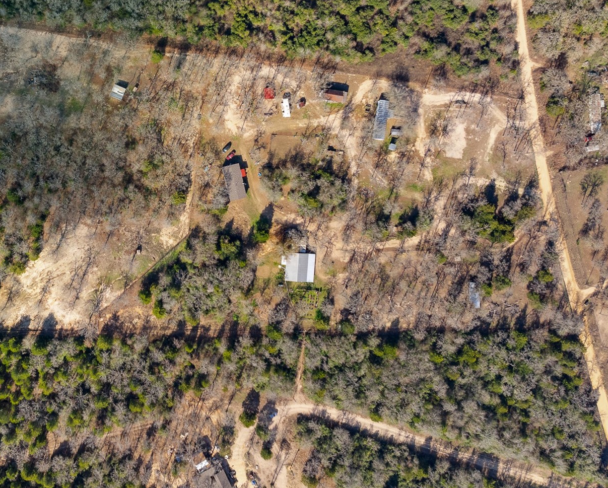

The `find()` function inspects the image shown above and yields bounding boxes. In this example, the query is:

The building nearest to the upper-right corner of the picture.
[587,94,604,132]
